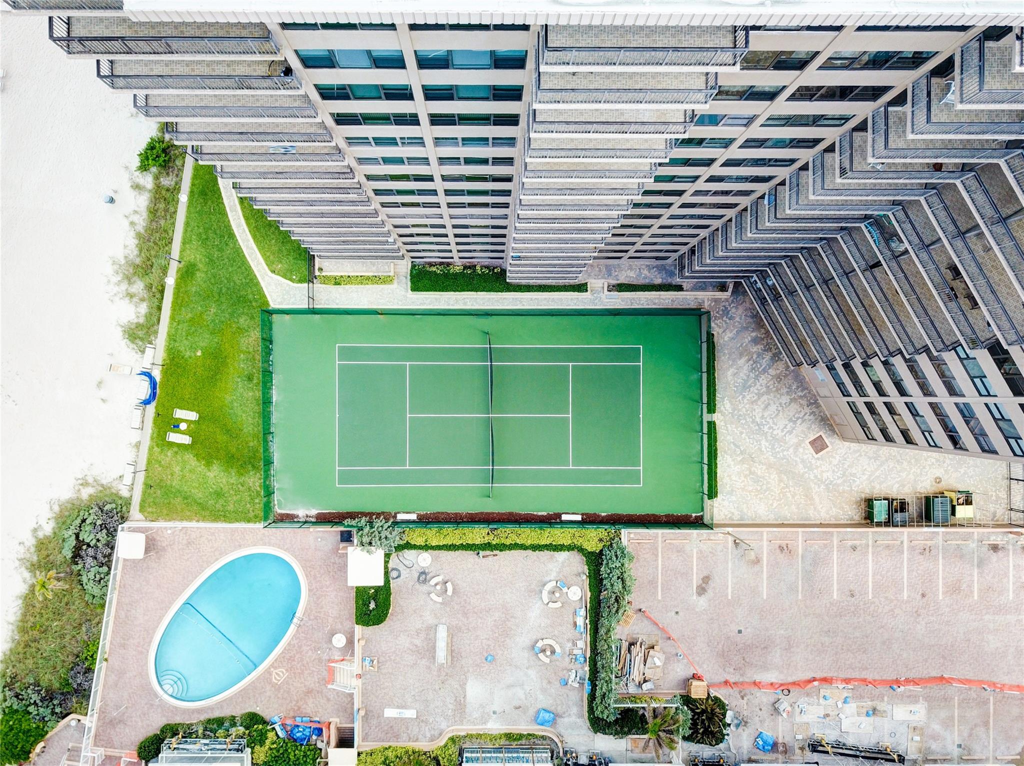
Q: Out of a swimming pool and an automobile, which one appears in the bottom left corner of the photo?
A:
swimming pool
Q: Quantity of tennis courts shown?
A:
1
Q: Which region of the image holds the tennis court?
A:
center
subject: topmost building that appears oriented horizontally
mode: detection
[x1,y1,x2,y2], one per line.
[0,0,1024,467]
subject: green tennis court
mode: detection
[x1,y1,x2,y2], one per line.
[273,315,704,513]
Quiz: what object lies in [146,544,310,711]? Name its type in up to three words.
swimming pool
